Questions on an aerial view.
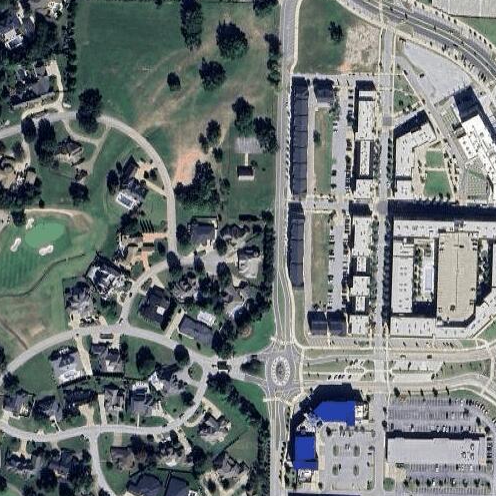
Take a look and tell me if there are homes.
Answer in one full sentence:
Yes, this view includes a home.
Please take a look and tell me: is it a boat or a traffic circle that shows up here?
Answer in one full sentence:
Of the two, only a traffic circle appears.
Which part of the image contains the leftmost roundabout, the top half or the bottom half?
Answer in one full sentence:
Seen from above, the leftmost roundabout lies in the bottom half of the view.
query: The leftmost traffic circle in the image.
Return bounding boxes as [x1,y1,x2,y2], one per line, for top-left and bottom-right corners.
[246,336,301,403]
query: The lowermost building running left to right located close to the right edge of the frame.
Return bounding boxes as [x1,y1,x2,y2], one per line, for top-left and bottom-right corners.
[387,437,479,464]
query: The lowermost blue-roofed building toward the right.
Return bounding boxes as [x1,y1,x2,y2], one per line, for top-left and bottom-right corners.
[295,435,317,470]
